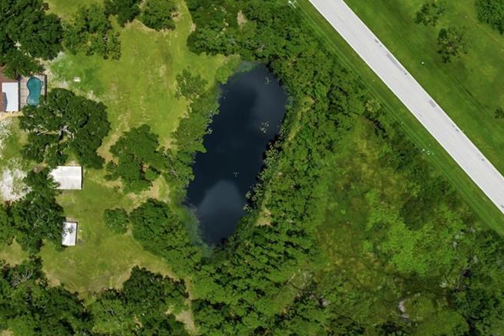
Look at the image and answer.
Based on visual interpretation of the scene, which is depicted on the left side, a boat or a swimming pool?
swimming pool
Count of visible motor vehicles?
none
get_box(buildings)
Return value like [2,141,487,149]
[47,166,82,189]
[0,61,19,114]
[62,222,76,245]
